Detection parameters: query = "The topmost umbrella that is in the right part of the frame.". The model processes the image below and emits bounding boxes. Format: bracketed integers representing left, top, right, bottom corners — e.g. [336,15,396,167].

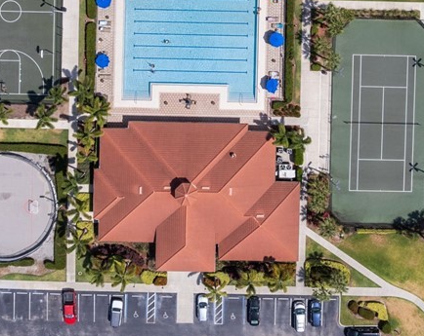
[268,31,284,48]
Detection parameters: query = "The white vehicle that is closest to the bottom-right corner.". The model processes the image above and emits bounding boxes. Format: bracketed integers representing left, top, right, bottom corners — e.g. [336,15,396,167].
[293,298,306,333]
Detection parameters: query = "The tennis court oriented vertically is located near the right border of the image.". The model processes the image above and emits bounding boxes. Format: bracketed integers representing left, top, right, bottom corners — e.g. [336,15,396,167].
[331,19,424,223]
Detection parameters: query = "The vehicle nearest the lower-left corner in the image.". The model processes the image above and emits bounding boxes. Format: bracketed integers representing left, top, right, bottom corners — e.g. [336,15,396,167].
[62,288,75,325]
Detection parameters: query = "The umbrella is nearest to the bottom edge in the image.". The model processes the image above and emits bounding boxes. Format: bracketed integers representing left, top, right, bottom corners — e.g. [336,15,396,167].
[263,78,279,94]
